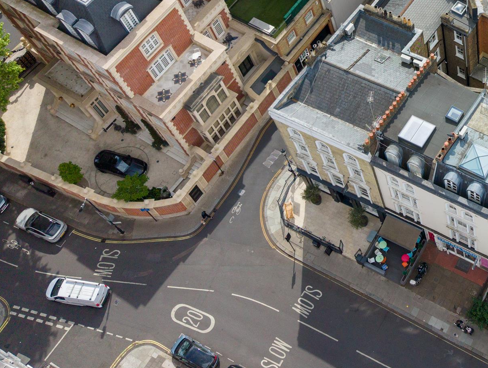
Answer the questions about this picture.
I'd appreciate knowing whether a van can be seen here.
Yes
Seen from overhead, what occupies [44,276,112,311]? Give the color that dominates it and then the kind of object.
white van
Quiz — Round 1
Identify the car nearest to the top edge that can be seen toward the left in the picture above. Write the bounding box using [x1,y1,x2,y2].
[92,148,149,177]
